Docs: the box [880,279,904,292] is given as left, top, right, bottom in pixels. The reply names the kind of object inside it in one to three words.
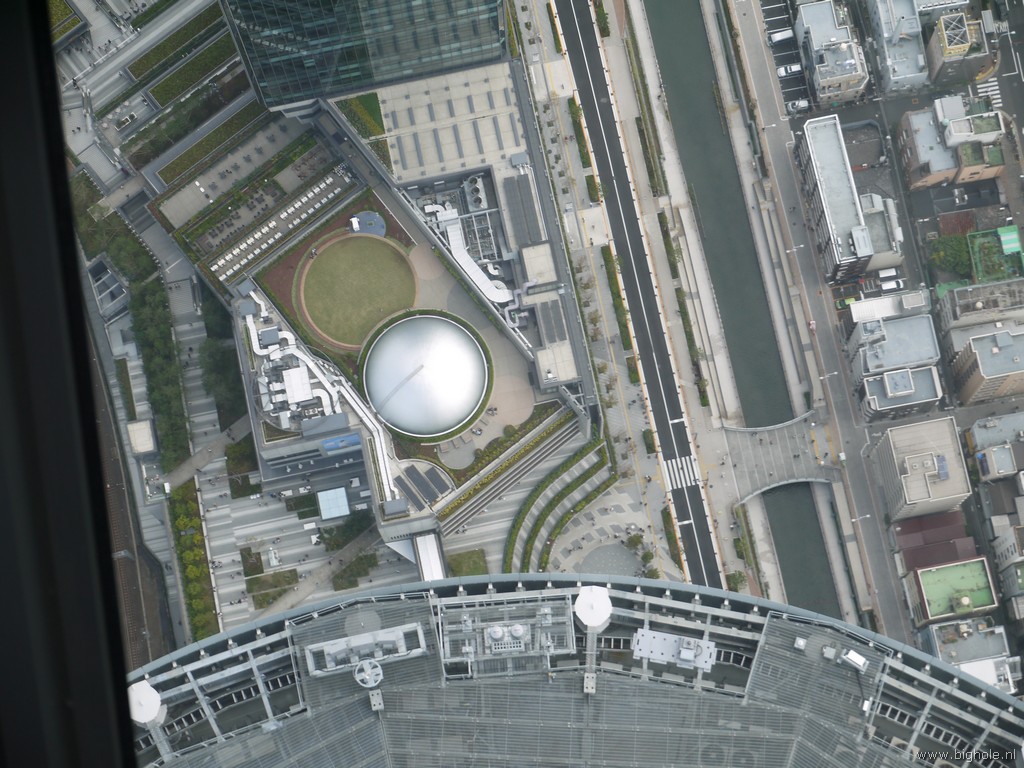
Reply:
vehicle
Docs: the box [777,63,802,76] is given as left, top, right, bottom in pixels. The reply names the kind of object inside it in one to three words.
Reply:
vehicle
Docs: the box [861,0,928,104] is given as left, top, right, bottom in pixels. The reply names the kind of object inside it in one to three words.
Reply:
building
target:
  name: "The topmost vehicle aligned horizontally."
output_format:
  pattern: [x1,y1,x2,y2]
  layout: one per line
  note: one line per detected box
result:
[768,28,794,43]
